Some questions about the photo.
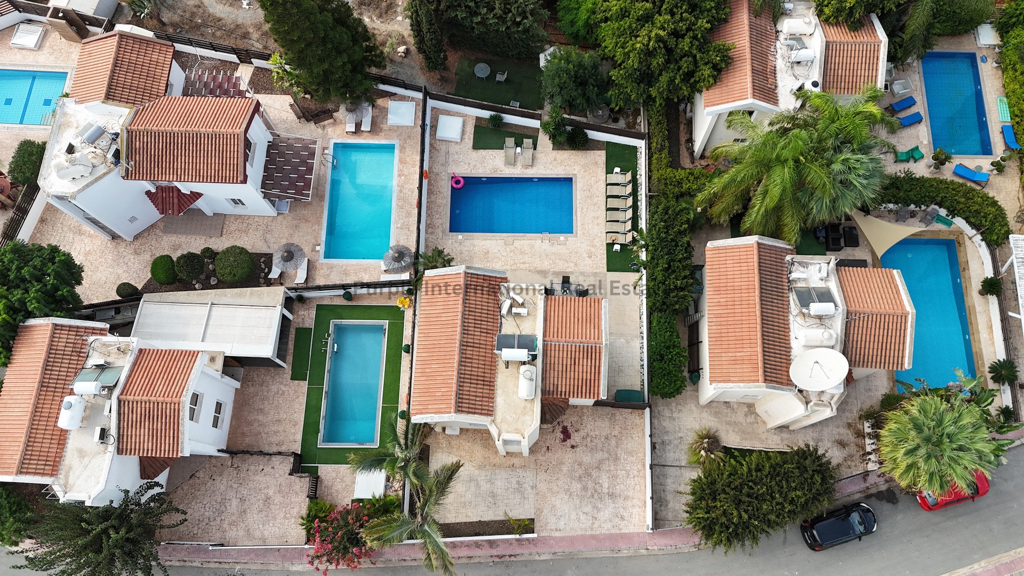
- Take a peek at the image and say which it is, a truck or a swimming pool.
swimming pool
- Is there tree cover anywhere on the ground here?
Yes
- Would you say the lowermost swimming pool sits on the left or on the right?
left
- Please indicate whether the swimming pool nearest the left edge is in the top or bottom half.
top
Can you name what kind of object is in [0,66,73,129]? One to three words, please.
swimming pool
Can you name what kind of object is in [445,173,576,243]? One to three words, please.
swimming pool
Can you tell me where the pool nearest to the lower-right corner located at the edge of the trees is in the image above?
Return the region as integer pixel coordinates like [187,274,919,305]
[869,232,991,404]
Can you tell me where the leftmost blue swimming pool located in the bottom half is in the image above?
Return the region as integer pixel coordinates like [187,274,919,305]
[320,321,386,446]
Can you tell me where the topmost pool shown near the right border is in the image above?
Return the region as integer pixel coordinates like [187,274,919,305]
[919,48,1000,159]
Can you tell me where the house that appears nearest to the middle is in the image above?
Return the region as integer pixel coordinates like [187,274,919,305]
[409,262,614,457]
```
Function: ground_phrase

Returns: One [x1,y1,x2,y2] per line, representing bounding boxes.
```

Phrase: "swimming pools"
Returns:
[445,173,576,243]
[0,66,73,129]
[320,321,386,446]
[869,232,991,404]
[919,48,1000,159]
[315,139,402,263]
